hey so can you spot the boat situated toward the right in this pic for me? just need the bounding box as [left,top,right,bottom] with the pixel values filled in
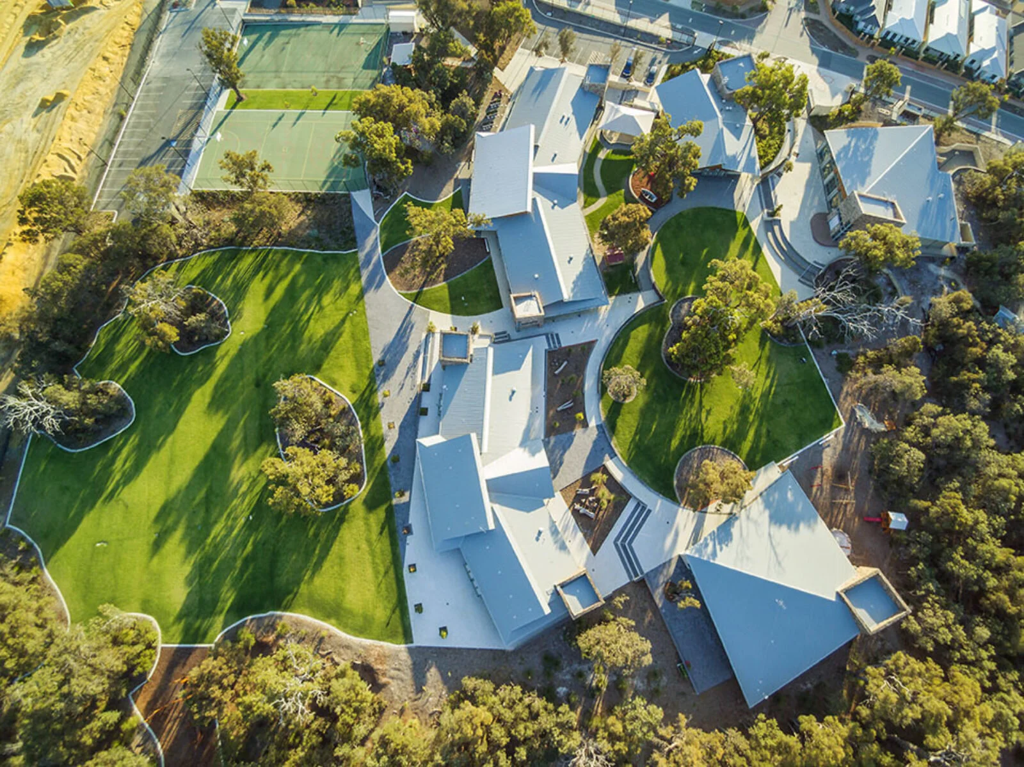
[641,190,659,202]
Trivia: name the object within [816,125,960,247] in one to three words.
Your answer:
building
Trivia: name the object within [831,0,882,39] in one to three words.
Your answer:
house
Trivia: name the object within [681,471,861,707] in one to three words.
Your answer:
building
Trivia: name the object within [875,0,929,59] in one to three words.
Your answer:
house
